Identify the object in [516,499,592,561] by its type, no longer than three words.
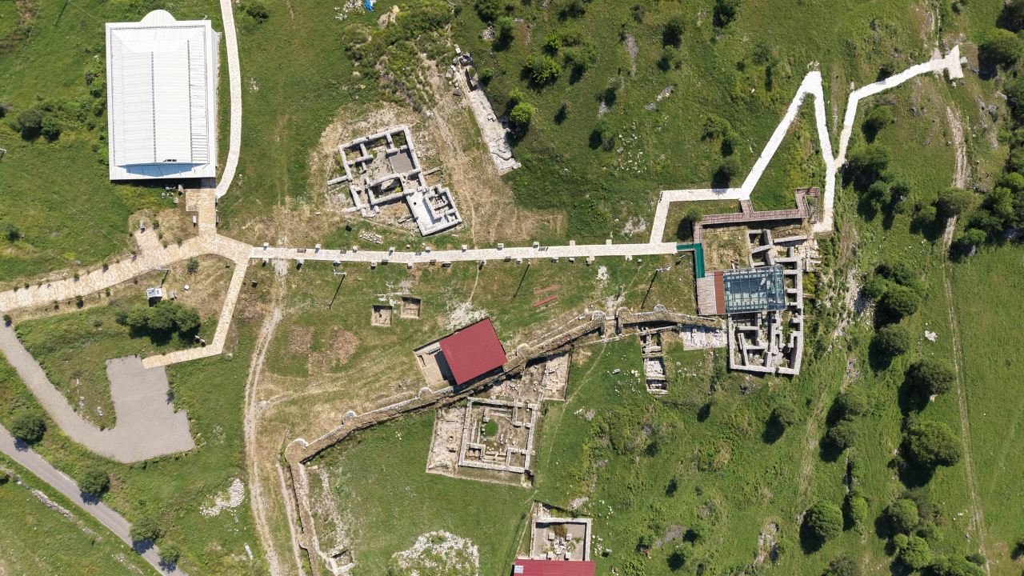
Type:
building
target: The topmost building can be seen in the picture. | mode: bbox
[106,9,222,188]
